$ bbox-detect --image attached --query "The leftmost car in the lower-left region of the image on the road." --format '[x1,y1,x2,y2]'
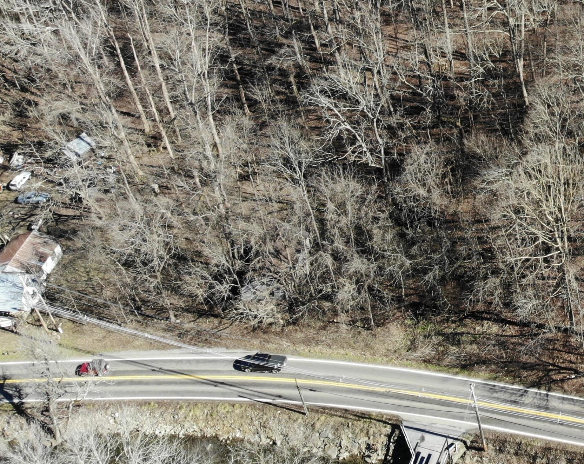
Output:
[77,356,108,376]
